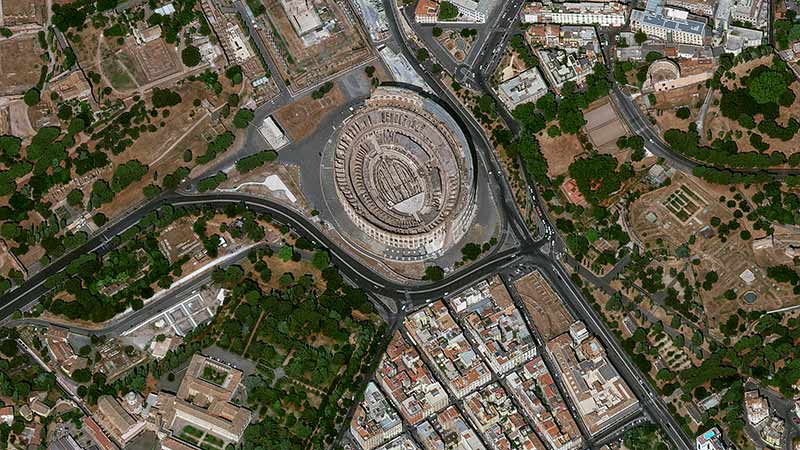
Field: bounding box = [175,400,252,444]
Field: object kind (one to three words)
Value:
building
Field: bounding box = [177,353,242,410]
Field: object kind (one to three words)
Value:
building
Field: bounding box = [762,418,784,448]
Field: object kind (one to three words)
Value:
house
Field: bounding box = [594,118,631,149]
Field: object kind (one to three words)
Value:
sports court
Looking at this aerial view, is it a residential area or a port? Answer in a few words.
residential area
